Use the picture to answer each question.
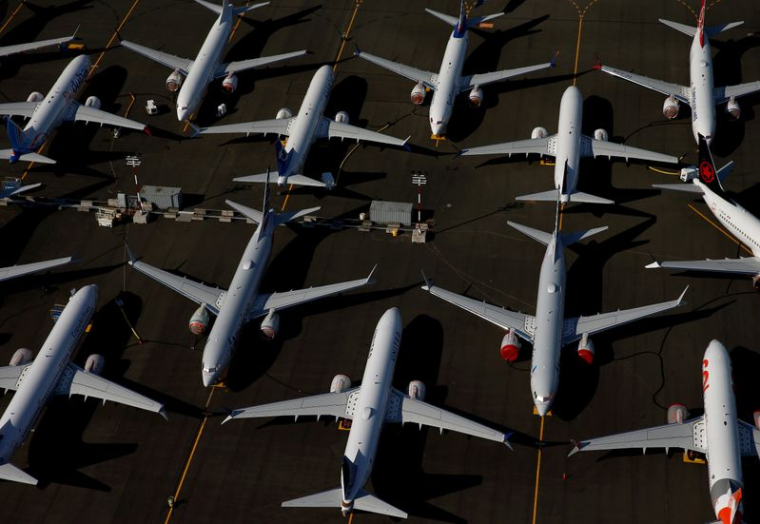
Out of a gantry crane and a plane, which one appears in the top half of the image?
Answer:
plane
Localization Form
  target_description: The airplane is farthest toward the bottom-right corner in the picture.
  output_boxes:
[570,341,760,524]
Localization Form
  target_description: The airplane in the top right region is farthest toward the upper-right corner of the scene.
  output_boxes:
[594,0,760,154]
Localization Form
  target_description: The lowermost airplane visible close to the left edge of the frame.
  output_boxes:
[0,286,167,486]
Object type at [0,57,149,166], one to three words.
airplane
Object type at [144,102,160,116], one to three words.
vehicle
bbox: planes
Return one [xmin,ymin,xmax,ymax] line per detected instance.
[570,341,760,524]
[0,286,167,486]
[218,310,515,522]
[594,0,760,154]
[451,87,688,206]
[126,163,378,387]
[188,67,412,188]
[0,57,149,166]
[114,0,314,124]
[421,182,689,418]
[649,134,760,288]
[353,0,560,138]
[0,0,79,56]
